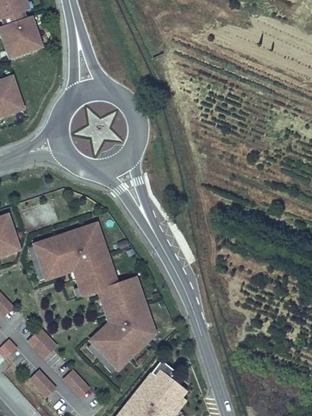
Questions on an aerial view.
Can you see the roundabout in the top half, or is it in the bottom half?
top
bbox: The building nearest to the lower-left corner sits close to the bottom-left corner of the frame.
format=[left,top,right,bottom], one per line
[29,369,56,398]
